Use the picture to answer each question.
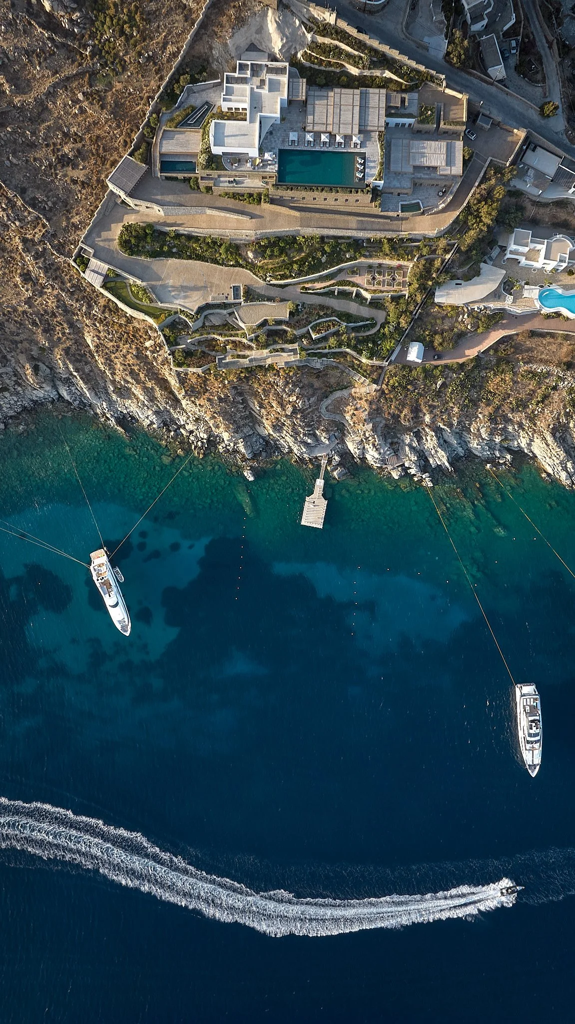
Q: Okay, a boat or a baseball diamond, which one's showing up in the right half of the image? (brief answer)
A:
boat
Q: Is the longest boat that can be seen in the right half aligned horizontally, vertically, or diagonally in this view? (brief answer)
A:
vertically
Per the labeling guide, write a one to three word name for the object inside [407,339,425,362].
tent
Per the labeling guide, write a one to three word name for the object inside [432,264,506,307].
building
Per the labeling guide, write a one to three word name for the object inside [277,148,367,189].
swimming pool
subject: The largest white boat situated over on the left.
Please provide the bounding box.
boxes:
[91,549,128,637]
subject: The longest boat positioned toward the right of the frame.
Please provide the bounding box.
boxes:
[518,683,544,781]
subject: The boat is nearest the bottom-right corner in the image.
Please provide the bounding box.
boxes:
[499,886,526,898]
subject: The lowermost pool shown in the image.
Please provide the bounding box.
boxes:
[537,284,575,320]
